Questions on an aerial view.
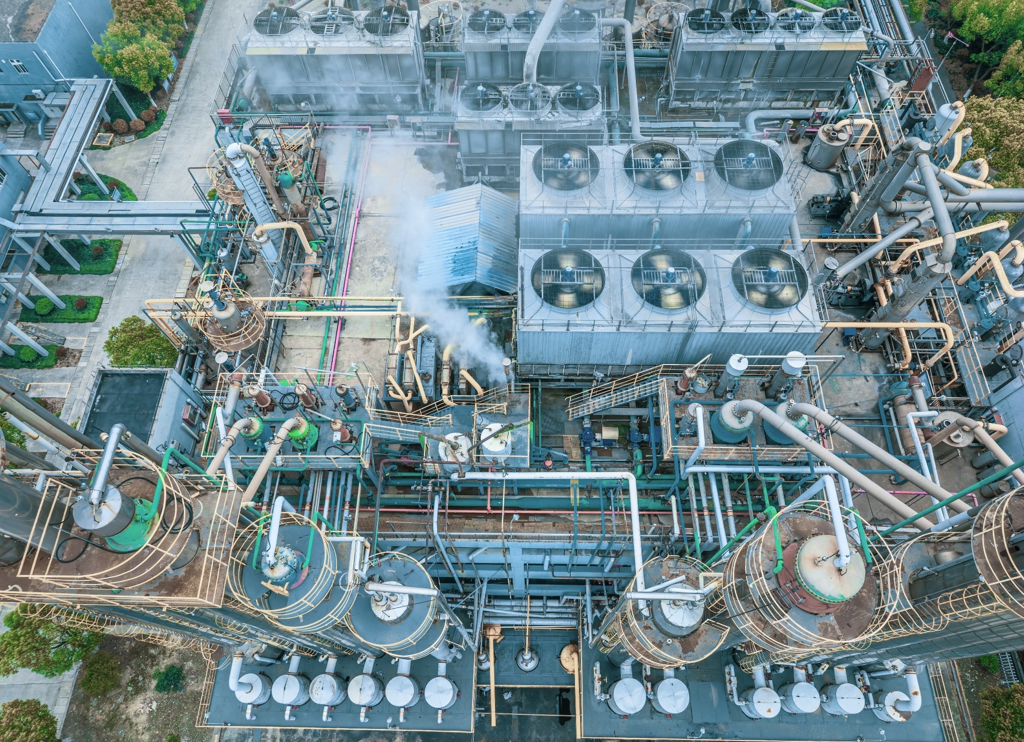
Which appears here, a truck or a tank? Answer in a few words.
tank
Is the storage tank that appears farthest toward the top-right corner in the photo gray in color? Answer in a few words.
Yes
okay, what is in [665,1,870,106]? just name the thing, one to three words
cooling tower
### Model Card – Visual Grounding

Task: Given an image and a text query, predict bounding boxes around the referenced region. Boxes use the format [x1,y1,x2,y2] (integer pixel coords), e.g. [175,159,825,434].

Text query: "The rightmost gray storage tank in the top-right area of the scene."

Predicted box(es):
[812,123,862,177]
